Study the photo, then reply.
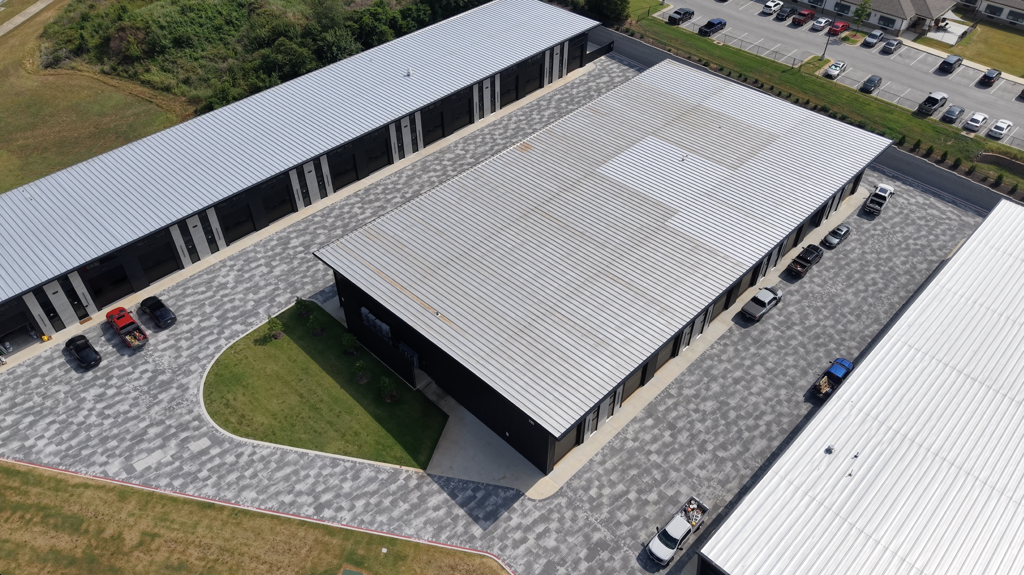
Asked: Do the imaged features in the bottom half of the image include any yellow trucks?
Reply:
No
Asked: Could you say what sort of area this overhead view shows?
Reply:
industrial area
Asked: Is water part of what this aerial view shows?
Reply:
No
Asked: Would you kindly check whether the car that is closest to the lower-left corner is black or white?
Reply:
black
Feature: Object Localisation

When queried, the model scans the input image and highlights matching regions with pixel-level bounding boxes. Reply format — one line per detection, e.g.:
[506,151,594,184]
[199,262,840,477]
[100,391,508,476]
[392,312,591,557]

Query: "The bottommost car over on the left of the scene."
[64,332,103,373]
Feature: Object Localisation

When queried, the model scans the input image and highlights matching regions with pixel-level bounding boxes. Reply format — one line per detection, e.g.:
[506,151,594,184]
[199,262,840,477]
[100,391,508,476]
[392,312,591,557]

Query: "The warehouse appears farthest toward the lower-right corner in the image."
[689,198,1024,575]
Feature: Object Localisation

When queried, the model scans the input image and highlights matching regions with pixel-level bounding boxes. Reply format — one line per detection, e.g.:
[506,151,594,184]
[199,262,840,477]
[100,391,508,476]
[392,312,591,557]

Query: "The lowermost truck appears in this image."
[643,492,712,571]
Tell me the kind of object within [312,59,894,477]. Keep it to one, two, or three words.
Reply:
warehouse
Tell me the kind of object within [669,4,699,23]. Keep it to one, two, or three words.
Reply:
vehicle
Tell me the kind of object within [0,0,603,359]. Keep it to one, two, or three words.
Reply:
warehouse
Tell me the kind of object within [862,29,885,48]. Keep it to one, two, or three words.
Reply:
car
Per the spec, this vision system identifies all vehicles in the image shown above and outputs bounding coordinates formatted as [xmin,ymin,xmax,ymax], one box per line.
[700,15,730,34]
[881,39,903,54]
[943,103,967,121]
[989,119,1014,138]
[820,224,854,251]
[966,111,991,130]
[783,244,828,281]
[979,67,1004,86]
[643,492,712,571]
[862,73,887,91]
[669,4,699,23]
[862,29,885,48]
[864,183,896,216]
[762,0,785,14]
[915,89,950,114]
[738,283,791,328]
[140,295,178,332]
[827,21,848,35]
[823,60,847,77]
[812,17,833,31]
[101,302,148,353]
[938,53,964,73]
[64,332,103,373]
[806,355,854,402]
[775,2,803,21]
[790,7,818,26]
